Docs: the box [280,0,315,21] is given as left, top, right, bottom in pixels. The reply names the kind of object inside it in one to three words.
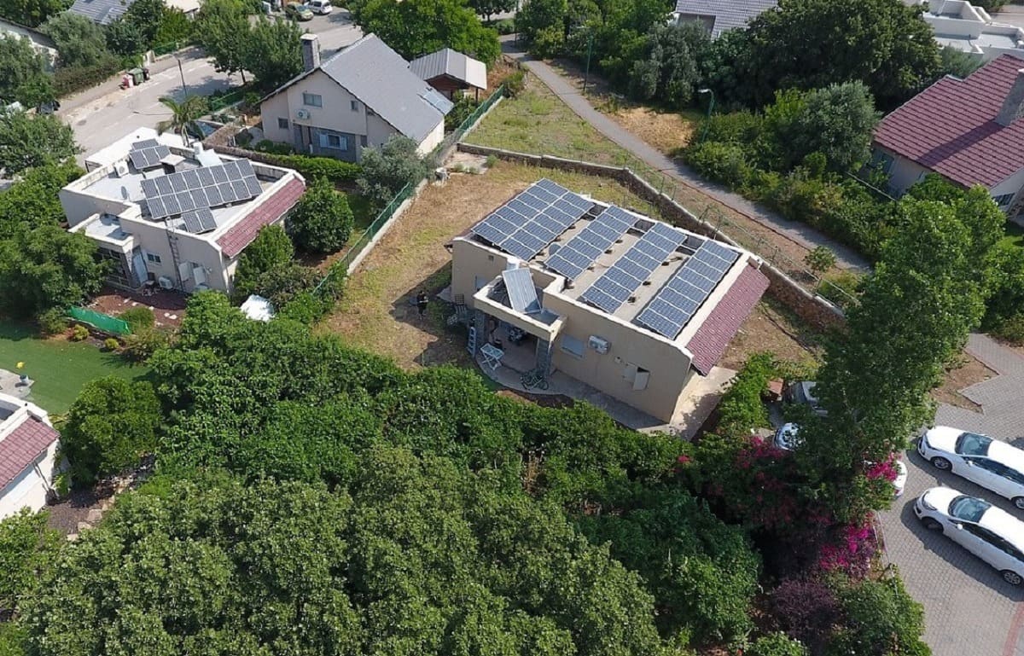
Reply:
car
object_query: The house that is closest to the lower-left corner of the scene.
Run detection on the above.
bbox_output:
[0,370,78,513]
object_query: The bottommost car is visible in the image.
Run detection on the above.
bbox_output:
[911,485,1024,588]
